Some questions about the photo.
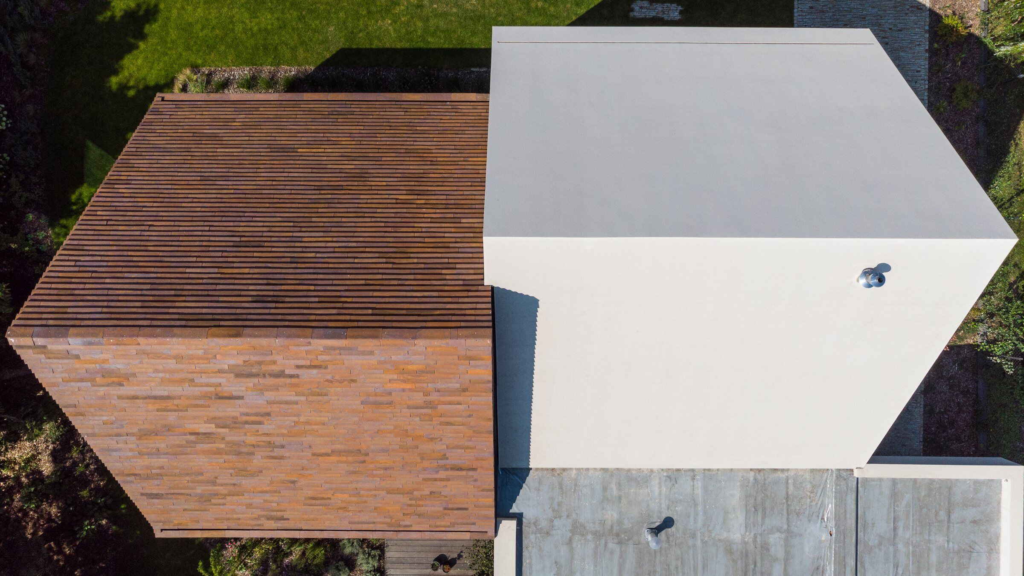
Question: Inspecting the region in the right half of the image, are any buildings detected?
Yes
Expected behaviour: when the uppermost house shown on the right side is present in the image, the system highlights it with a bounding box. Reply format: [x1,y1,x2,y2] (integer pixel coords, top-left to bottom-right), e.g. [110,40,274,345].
[483,27,1018,469]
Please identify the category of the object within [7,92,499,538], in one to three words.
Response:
house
